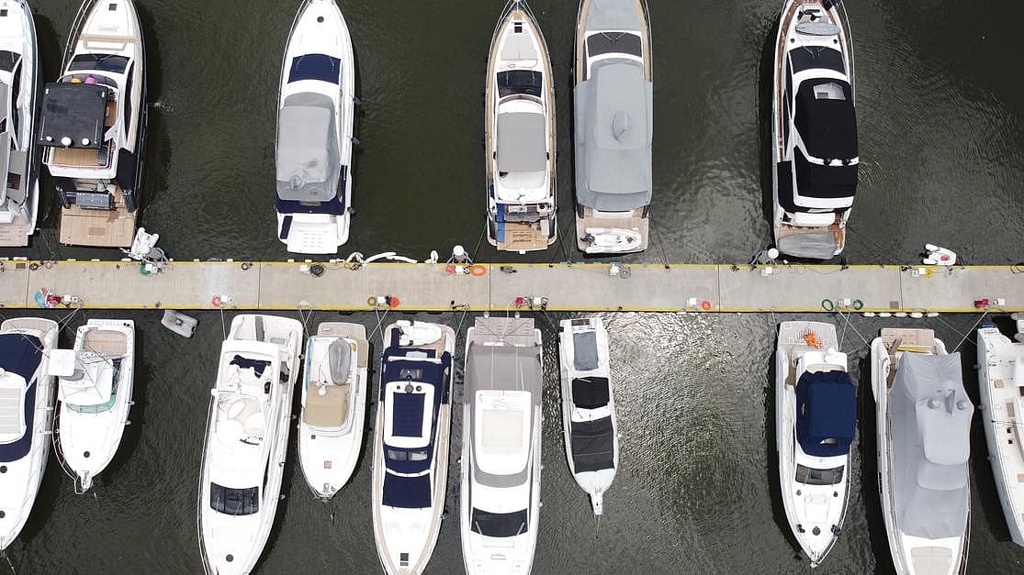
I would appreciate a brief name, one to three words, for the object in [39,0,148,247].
boat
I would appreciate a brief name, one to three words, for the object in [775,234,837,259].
vessel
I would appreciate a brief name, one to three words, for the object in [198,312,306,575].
boat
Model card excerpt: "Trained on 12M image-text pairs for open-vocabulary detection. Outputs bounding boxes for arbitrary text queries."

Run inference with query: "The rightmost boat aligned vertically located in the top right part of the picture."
[767,0,861,252]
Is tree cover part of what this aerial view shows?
No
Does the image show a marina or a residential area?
marina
